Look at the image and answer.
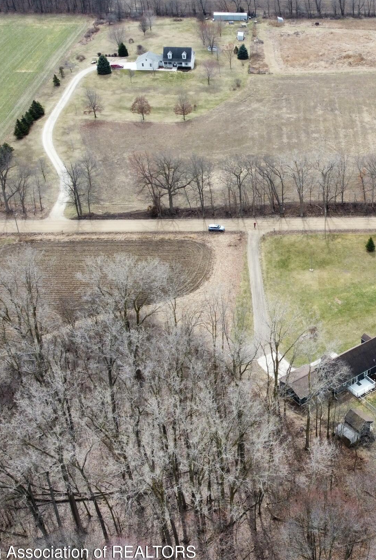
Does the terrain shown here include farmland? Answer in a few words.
Yes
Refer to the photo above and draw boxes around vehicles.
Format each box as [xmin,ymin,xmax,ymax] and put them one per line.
[109,62,124,68]
[208,225,225,233]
